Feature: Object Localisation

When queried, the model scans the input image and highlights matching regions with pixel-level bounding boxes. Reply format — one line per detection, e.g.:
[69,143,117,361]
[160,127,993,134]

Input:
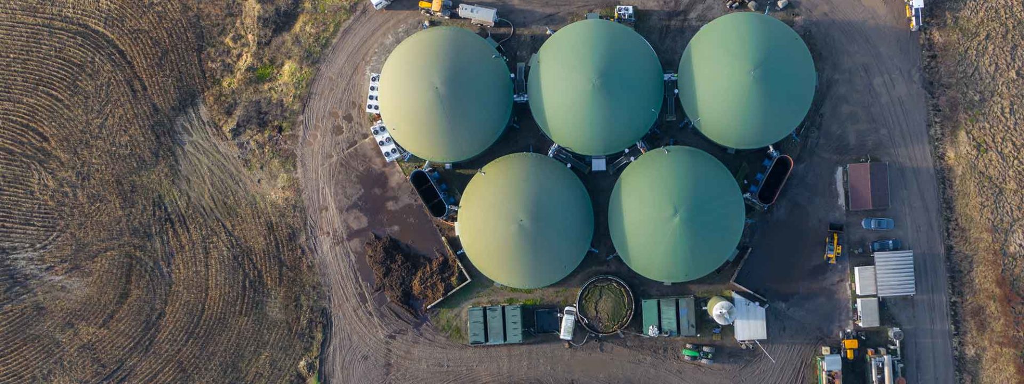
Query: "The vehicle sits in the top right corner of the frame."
[901,0,924,34]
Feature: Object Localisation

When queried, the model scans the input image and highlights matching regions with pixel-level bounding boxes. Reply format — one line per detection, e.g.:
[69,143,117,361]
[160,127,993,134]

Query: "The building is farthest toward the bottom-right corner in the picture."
[856,296,880,327]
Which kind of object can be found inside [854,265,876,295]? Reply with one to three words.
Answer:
building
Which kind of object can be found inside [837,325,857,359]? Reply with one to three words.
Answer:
work vehicle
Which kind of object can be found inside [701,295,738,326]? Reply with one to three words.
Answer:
silo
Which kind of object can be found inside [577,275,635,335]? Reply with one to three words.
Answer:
storage tank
